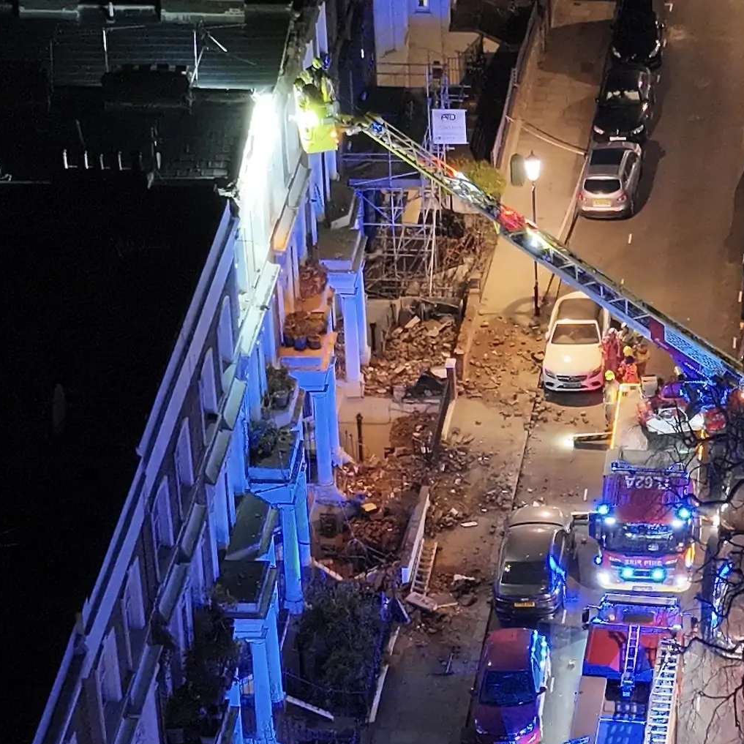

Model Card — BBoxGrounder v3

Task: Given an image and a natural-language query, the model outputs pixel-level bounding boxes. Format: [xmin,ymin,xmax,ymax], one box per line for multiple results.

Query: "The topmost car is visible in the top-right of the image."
[608,0,668,58]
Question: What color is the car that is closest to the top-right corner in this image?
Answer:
black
